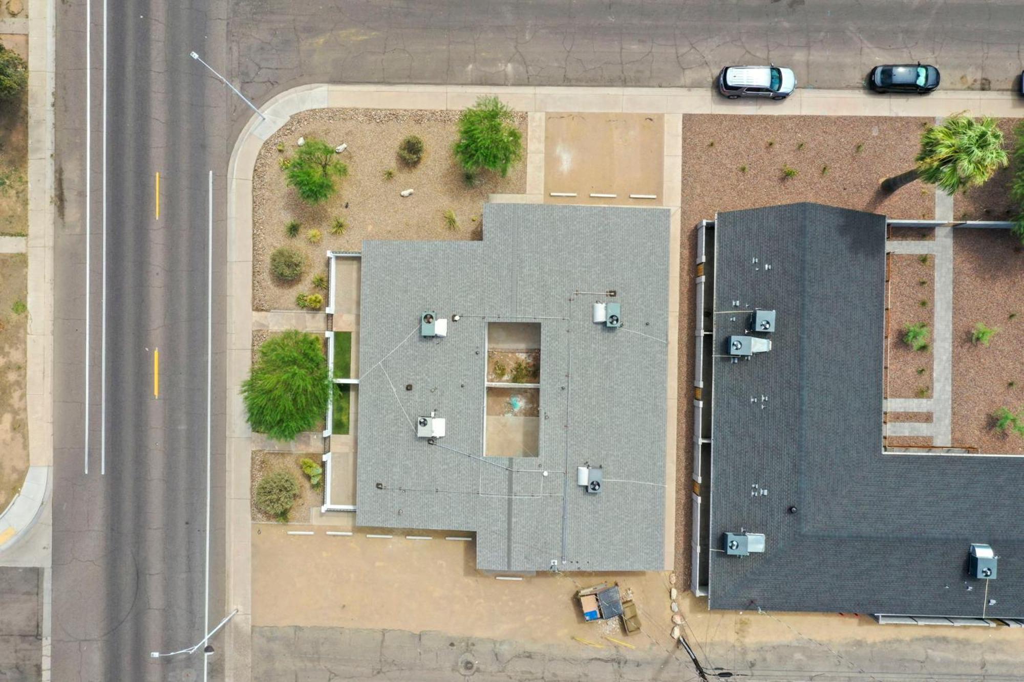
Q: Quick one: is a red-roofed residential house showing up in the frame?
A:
No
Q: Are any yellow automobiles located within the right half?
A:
No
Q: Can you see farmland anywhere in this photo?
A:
No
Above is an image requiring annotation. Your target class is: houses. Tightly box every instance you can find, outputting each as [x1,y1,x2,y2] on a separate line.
[707,203,1024,620]
[356,204,671,574]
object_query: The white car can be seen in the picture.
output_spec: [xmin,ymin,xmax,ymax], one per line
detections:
[716,61,795,100]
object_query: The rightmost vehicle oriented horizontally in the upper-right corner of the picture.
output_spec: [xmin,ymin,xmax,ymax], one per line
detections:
[868,59,940,95]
